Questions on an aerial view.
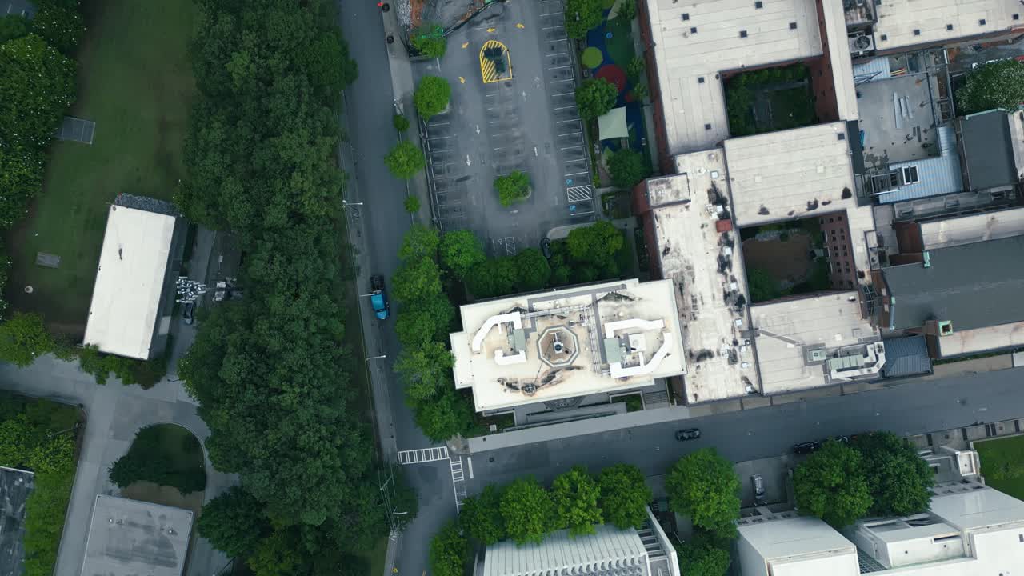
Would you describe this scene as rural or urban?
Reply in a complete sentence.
The land in this view is best described as urban.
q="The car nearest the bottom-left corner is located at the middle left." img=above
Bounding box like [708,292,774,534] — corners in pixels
[183,302,196,324]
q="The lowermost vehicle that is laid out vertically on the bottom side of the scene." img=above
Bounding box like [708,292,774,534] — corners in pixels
[751,474,765,501]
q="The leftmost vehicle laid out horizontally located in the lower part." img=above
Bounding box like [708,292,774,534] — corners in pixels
[675,428,701,441]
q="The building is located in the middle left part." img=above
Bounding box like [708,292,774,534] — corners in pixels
[83,205,193,358]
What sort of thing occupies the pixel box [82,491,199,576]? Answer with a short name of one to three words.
building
